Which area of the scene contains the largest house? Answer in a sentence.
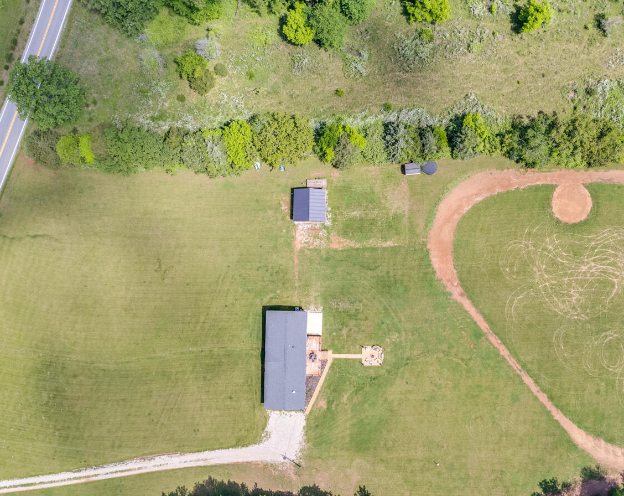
You can find the largest house in the bottom area of the picture.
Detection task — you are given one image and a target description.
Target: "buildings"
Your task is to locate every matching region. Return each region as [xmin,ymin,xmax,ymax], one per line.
[293,188,326,223]
[405,163,420,176]
[263,310,308,412]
